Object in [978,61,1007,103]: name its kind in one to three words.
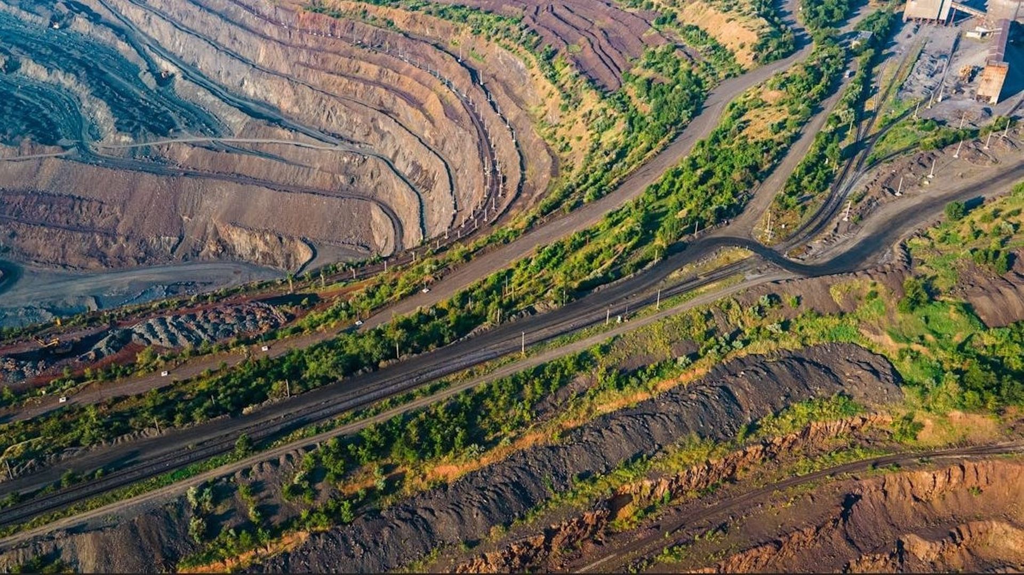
building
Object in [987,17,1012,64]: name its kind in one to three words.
building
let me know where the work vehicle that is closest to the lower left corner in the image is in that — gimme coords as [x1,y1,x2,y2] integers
[39,336,64,352]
